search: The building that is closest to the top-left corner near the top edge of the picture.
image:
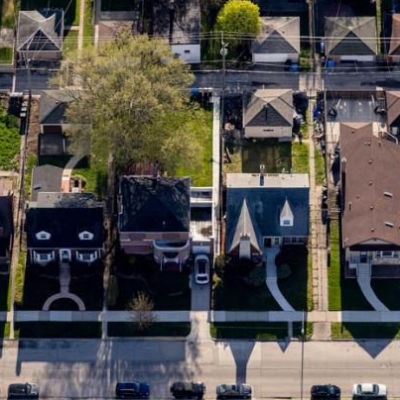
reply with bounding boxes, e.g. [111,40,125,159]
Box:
[17,11,64,61]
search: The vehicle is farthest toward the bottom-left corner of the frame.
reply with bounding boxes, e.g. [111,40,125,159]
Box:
[6,382,40,398]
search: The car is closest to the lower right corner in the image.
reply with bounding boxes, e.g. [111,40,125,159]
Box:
[354,383,387,399]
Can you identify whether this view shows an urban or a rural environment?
urban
